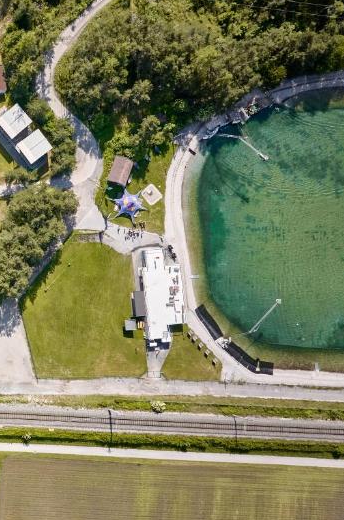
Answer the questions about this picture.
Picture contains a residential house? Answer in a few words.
Yes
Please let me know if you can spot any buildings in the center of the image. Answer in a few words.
Yes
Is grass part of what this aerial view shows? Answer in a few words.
Yes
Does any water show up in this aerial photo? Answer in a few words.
Yes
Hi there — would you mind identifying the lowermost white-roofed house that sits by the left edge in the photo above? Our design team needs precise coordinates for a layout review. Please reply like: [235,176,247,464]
[13,129,53,166]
